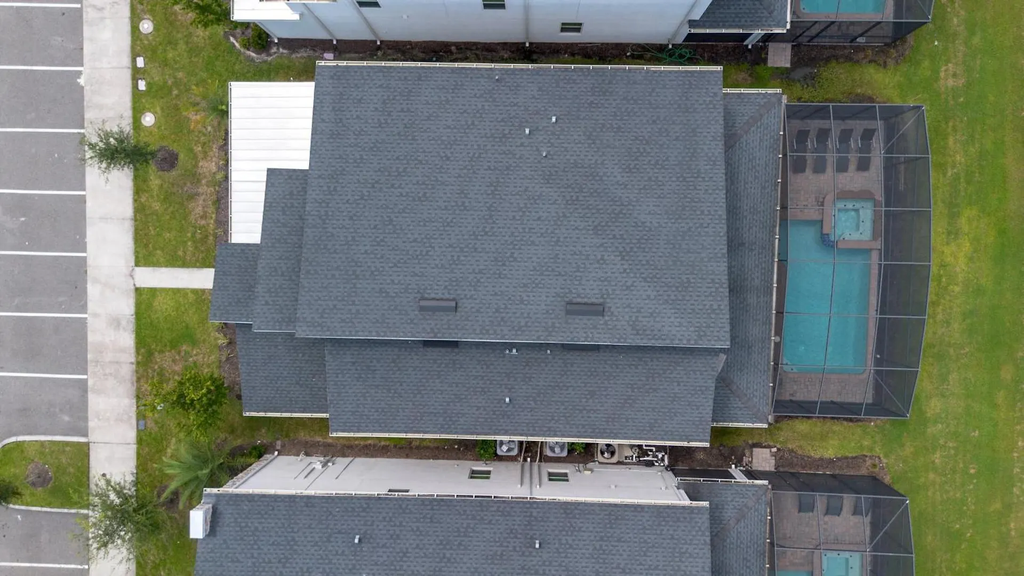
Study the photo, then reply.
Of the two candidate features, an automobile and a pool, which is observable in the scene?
pool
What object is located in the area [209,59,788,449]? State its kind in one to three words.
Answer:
house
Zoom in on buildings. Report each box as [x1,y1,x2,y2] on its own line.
[188,449,775,576]
[209,59,788,449]
[227,0,791,52]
